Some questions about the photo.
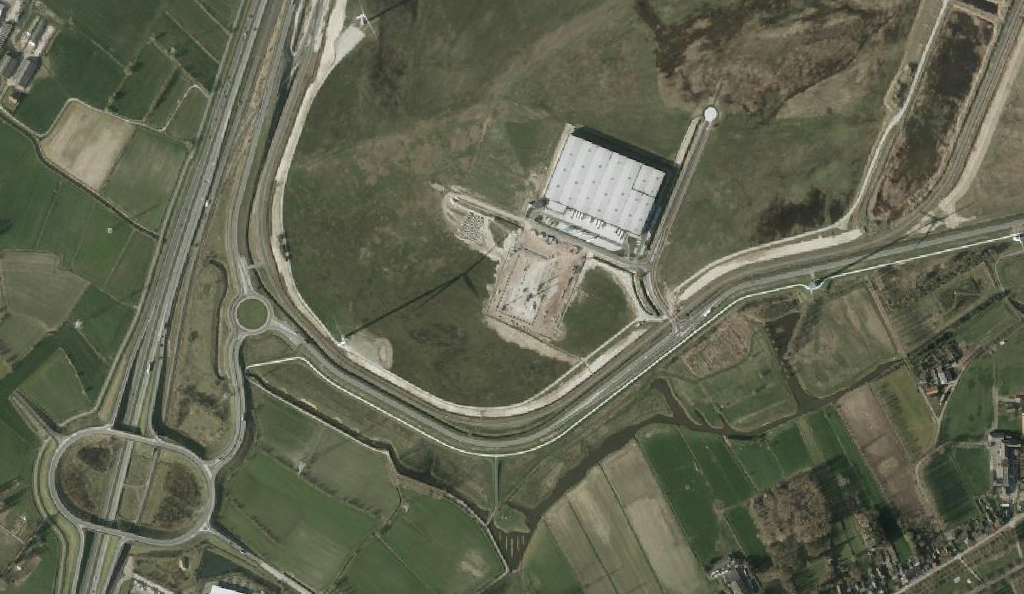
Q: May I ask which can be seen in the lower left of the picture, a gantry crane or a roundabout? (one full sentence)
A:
There is a roundabout in the lower left of the picture.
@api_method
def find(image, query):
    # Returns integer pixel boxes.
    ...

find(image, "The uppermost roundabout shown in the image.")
[231,293,273,335]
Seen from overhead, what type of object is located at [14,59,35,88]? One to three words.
barn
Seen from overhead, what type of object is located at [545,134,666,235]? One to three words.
building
